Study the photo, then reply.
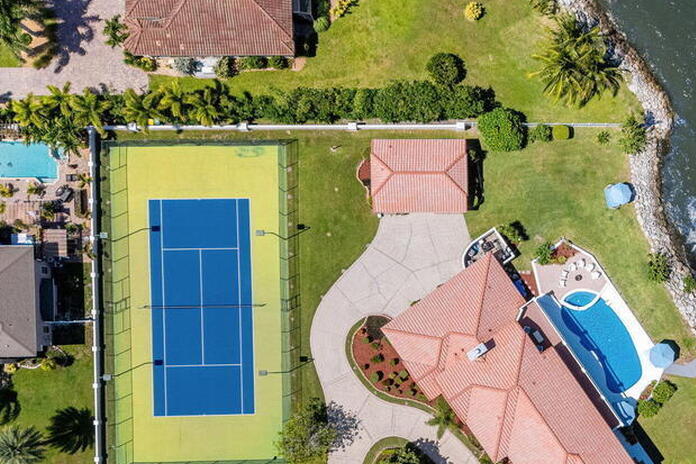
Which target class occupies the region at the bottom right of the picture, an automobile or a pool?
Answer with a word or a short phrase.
pool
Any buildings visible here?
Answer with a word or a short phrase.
Yes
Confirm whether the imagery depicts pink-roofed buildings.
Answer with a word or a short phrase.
Yes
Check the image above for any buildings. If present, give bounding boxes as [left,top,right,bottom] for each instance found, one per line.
[123,0,296,63]
[0,246,65,357]
[384,252,639,464]
[371,139,468,215]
